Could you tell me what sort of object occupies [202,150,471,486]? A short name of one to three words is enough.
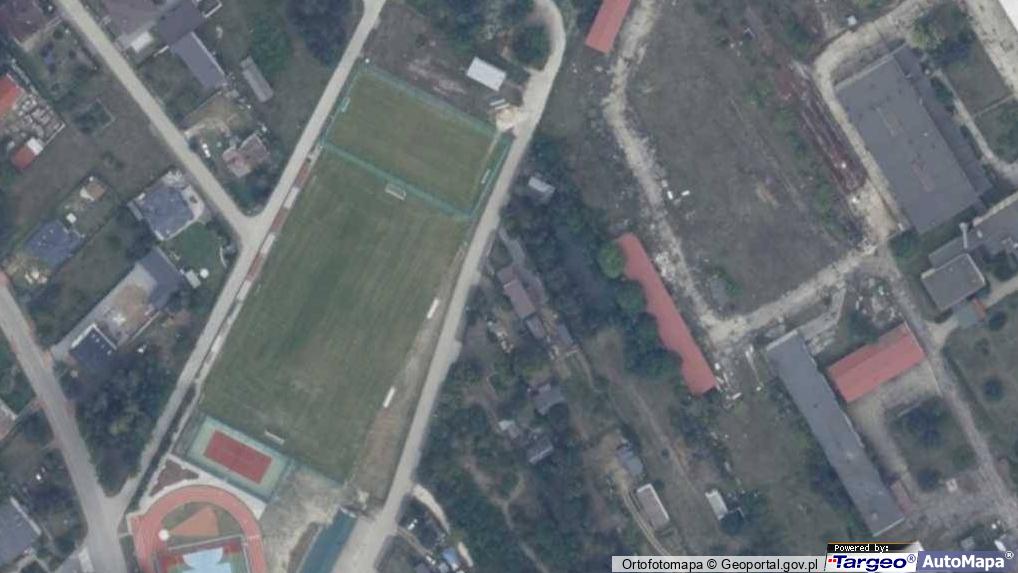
soccer field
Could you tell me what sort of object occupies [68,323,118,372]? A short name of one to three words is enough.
house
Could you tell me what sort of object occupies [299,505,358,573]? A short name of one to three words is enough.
building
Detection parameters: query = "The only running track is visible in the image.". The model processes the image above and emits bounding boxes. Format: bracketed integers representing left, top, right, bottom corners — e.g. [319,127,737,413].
[130,488,266,573]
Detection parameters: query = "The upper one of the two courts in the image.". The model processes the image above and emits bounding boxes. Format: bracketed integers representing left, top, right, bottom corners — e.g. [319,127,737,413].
[188,418,287,500]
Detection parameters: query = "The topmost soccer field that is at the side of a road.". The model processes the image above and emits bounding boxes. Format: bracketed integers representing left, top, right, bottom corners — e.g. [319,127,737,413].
[326,68,503,214]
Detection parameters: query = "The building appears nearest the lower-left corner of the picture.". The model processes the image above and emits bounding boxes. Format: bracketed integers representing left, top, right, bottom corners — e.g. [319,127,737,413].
[0,497,44,566]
